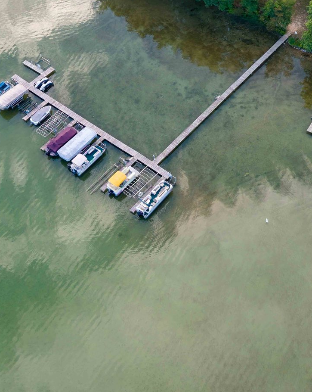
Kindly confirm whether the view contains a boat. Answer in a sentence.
Yes, the photo shows a boat.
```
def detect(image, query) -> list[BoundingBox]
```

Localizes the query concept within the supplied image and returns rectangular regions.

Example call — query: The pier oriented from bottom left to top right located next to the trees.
[150,34,292,166]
